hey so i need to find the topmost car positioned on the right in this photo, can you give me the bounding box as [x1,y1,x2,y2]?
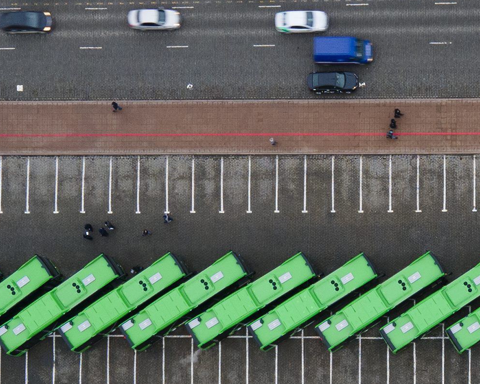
[276,8,329,37]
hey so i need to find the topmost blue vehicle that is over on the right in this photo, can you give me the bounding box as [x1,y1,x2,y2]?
[313,37,374,68]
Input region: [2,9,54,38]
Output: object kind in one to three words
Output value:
car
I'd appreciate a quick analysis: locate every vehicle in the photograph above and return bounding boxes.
[2,9,54,38]
[378,264,480,357]
[444,307,480,357]
[55,250,198,356]
[116,247,259,353]
[184,249,327,352]
[0,252,67,326]
[245,250,388,355]
[313,249,455,356]
[313,37,374,68]
[276,8,329,37]
[308,69,360,97]
[129,6,182,34]
[0,251,132,358]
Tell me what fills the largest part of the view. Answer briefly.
paved ground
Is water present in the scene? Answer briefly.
No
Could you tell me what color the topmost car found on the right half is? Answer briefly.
white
